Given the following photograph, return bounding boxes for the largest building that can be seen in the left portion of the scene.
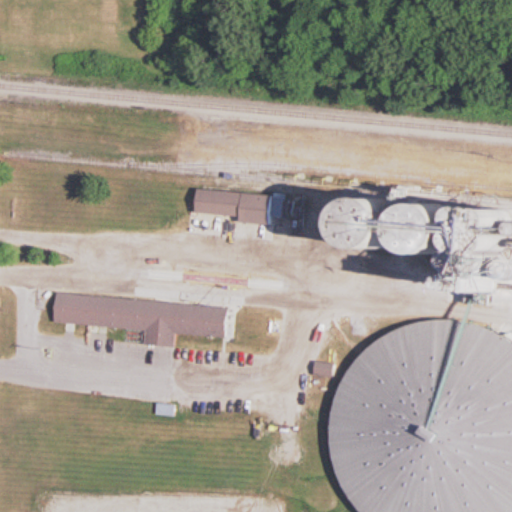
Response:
[50,292,228,348]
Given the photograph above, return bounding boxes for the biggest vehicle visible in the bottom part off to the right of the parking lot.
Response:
[310,324,325,344]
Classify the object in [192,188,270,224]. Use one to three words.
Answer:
building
